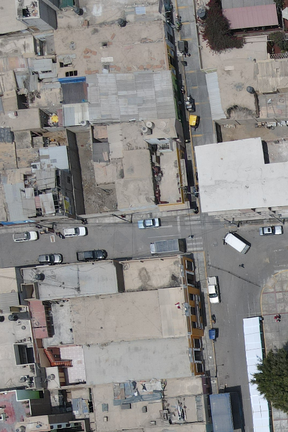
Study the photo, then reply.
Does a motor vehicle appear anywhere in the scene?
Yes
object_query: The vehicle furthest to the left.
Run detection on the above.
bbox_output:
[12,229,40,241]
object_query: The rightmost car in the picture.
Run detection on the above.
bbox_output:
[260,223,284,236]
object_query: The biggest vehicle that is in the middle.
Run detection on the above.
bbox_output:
[149,238,187,255]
